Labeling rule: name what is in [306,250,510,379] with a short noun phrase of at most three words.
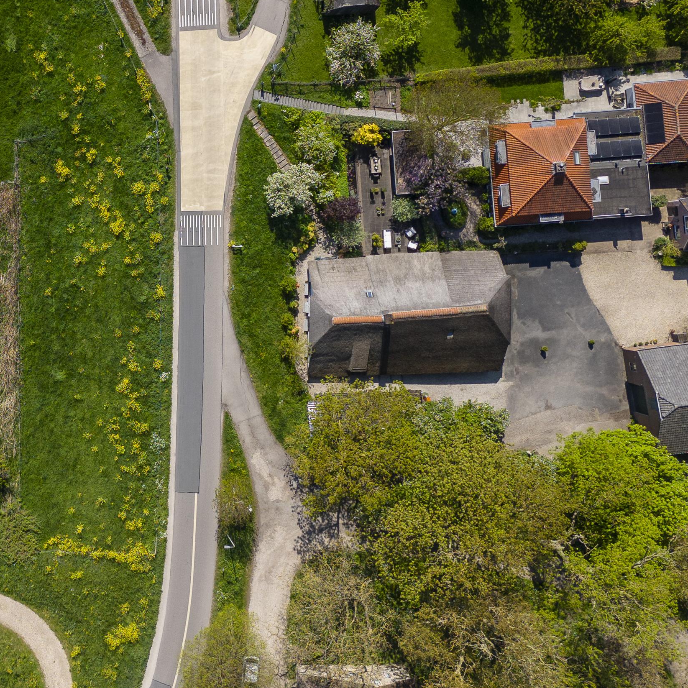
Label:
house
